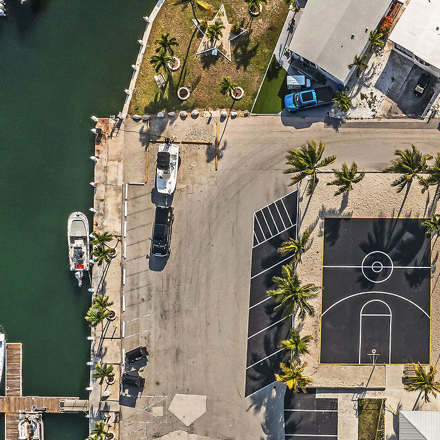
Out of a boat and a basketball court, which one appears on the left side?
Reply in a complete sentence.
What appears on the left side is a boat.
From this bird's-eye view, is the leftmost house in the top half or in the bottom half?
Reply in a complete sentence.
It is in the top half that the leftmost house appears.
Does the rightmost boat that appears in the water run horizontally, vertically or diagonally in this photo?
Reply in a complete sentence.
I'd say the rightmost boat that appears in the water is aligned vertically in the picture.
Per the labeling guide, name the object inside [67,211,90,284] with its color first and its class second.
white boat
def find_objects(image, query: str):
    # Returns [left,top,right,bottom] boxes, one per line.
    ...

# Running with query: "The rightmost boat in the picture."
[154,133,179,194]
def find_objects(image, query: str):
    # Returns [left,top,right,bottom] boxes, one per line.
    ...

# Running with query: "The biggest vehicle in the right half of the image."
[282,87,335,114]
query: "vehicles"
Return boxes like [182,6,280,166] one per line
[413,74,430,100]
[150,204,176,259]
[121,374,148,389]
[123,348,150,365]
[282,87,335,114]
[288,74,310,93]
